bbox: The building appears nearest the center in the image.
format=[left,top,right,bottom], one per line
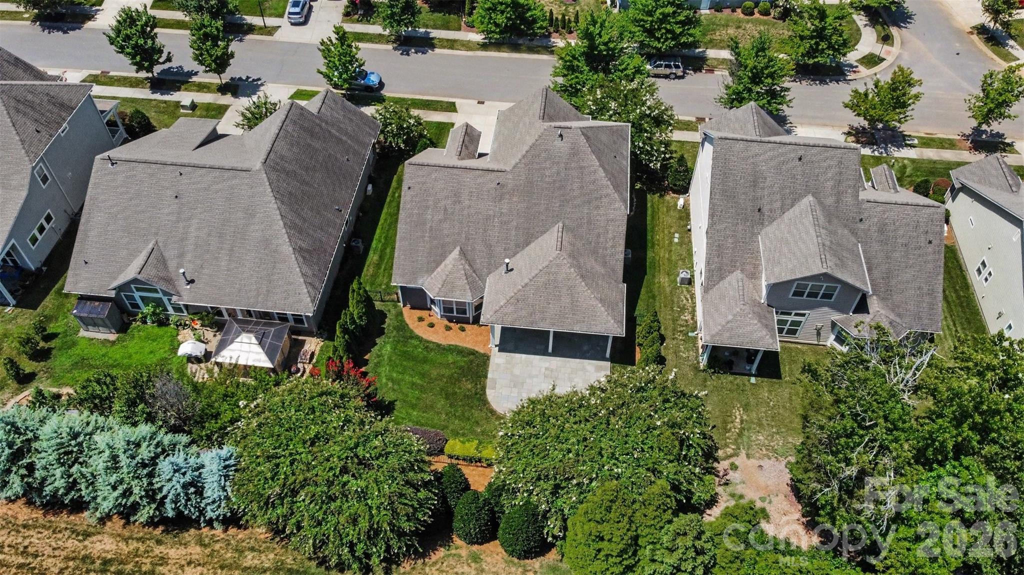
[392,85,632,358]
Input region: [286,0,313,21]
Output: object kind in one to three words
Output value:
car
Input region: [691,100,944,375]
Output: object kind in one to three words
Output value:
house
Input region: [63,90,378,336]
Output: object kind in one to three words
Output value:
house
